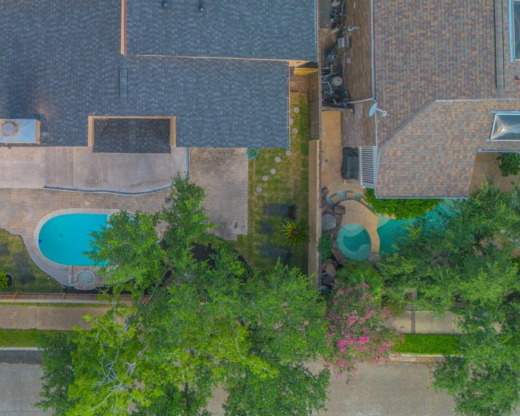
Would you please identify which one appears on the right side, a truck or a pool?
pool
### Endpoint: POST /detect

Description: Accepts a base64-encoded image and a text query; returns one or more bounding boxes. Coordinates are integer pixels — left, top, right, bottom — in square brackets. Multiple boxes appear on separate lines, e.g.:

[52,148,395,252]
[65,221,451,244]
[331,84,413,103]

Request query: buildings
[0,0,319,154]
[350,0,520,204]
